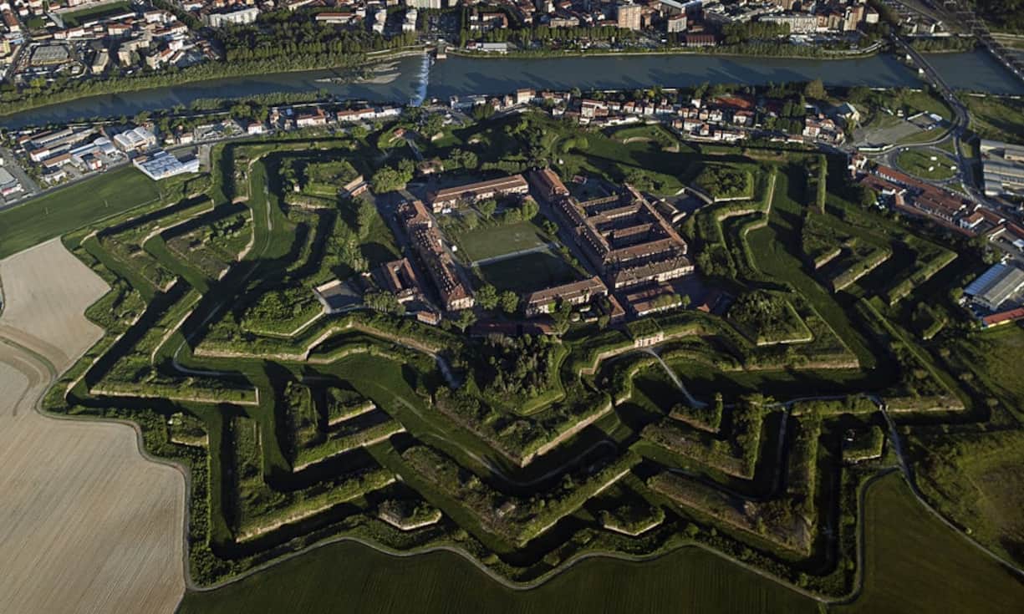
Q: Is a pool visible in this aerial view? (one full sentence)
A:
No, no pool is visible in the scene.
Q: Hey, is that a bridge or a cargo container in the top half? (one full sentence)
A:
There is a bridge in the top half.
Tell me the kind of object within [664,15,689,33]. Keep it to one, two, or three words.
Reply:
building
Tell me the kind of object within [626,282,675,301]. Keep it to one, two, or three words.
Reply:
shed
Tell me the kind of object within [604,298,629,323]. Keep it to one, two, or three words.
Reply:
shed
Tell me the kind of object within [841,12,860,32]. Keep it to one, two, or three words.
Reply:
building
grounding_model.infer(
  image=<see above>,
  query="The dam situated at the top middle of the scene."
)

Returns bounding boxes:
[405,57,432,107]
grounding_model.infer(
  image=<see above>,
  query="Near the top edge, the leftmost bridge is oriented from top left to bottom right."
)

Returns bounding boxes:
[881,29,951,95]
